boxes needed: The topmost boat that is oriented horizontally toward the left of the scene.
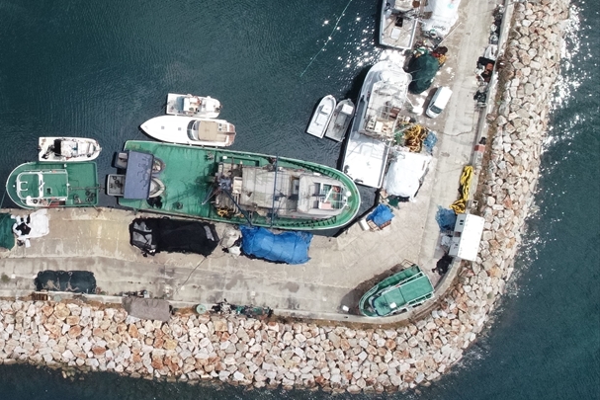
[164,93,222,116]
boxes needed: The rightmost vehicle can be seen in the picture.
[425,86,454,118]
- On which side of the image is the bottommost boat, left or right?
right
